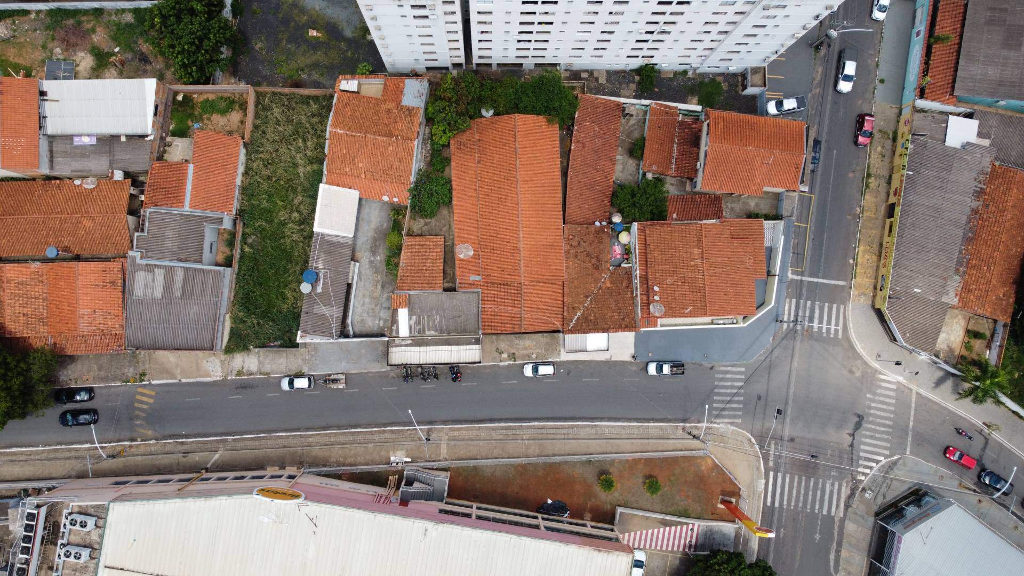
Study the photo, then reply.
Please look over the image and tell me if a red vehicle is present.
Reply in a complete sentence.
Yes, the frame does contain a red vehicle.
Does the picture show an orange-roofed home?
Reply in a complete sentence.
Yes, the image includes an orange-roofed home.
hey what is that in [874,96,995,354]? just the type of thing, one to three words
building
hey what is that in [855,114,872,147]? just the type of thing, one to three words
car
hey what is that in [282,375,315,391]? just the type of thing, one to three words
car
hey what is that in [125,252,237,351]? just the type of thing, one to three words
house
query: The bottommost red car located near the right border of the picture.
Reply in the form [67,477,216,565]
[942,445,976,469]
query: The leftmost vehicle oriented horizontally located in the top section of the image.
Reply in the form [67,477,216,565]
[765,97,805,114]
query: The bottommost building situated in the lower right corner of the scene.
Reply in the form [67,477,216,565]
[852,488,1024,576]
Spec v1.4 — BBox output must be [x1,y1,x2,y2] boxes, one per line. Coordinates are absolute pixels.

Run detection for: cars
[524,362,555,377]
[282,375,315,391]
[765,97,805,114]
[1015,493,1024,509]
[647,361,683,376]
[835,48,854,94]
[855,114,872,147]
[977,469,1012,495]
[942,445,976,469]
[61,409,100,425]
[631,548,646,576]
[56,387,96,403]
[811,140,822,170]
[869,0,887,26]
